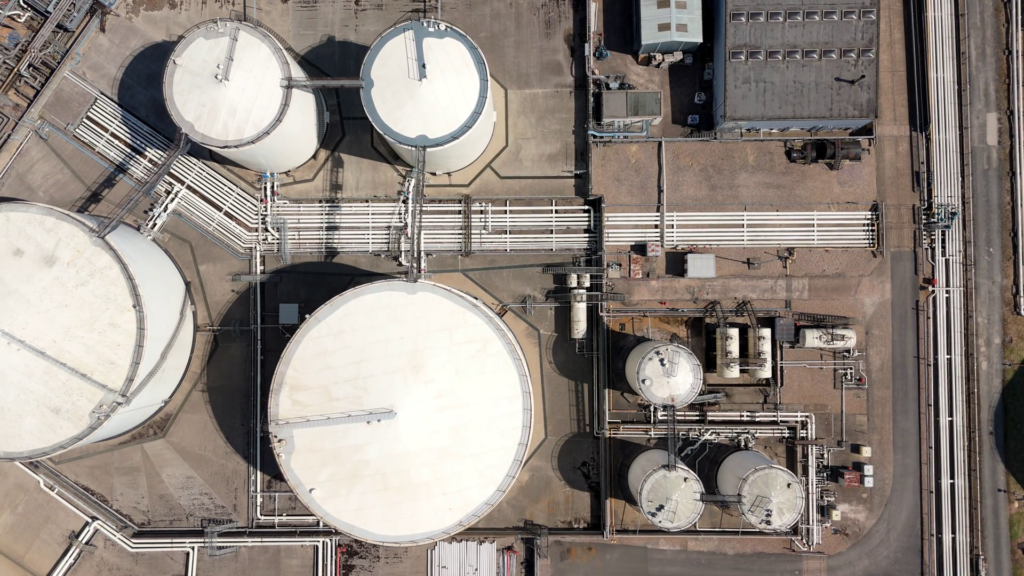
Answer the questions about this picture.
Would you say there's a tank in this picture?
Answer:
Yes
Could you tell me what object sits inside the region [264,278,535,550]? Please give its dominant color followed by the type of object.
white storage tank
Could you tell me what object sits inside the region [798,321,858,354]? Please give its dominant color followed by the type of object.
white storage tank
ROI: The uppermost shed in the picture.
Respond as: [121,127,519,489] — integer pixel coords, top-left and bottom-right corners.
[634,0,703,52]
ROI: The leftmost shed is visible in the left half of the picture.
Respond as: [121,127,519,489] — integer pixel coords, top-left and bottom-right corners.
[272,304,297,325]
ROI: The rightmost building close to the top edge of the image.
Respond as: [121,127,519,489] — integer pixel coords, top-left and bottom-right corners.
[712,0,879,131]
